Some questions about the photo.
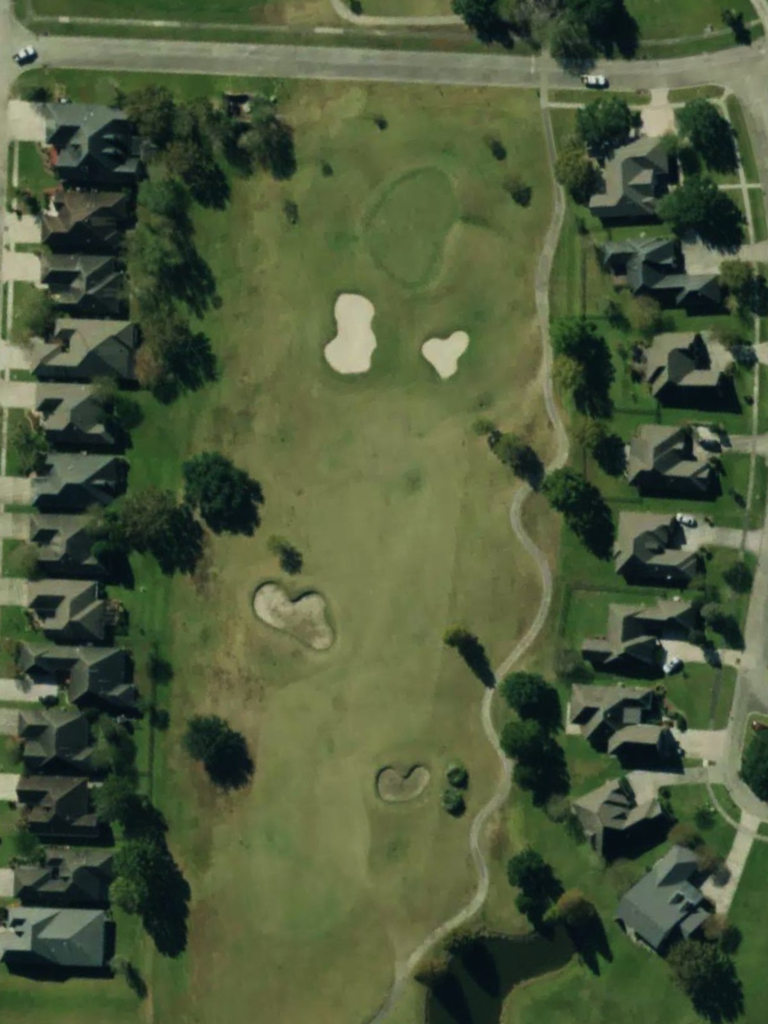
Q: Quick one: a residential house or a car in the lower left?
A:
residential house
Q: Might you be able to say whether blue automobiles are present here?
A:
No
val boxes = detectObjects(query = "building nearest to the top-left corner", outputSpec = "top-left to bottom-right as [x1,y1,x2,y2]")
[45,103,137,185]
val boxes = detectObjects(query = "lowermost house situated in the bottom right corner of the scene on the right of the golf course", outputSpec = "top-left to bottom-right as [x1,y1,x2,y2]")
[609,844,721,955]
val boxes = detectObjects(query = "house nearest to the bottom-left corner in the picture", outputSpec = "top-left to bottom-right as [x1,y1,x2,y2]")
[0,908,104,974]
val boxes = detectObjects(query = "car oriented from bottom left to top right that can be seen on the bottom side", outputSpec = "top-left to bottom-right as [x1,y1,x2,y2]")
[661,655,681,673]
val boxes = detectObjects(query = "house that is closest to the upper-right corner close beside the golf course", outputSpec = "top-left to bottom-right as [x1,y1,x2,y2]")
[589,135,669,219]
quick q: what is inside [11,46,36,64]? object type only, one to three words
vehicle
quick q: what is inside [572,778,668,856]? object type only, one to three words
house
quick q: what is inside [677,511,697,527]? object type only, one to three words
car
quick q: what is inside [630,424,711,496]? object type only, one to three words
house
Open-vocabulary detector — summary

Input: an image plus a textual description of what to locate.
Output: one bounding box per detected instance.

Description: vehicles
[677,511,697,527]
[11,46,36,64]
[661,655,681,673]
[698,427,719,443]
[582,75,607,85]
